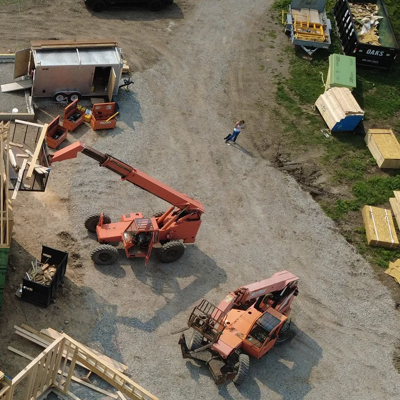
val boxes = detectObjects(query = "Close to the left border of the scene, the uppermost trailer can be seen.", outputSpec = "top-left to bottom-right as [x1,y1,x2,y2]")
[1,42,139,100]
